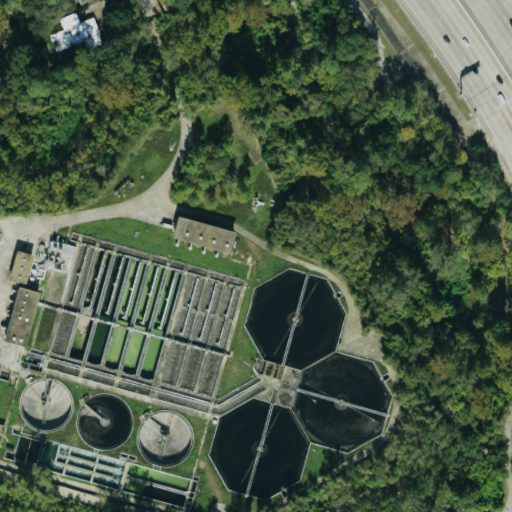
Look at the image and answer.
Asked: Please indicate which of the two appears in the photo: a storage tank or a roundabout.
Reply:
storage tank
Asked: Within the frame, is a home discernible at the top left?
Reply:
Yes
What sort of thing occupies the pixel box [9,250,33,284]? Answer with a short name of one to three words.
building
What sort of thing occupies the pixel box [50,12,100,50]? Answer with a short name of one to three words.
house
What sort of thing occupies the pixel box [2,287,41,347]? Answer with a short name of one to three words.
building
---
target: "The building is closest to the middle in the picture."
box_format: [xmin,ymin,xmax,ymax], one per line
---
[174,217,238,258]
